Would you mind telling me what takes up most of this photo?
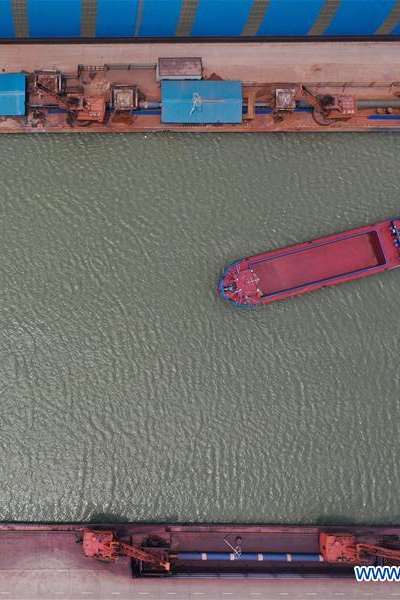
water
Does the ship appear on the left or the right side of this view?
right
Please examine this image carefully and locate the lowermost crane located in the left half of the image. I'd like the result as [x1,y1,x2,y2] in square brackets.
[77,523,171,570]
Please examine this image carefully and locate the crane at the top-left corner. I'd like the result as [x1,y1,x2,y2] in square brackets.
[33,80,106,125]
